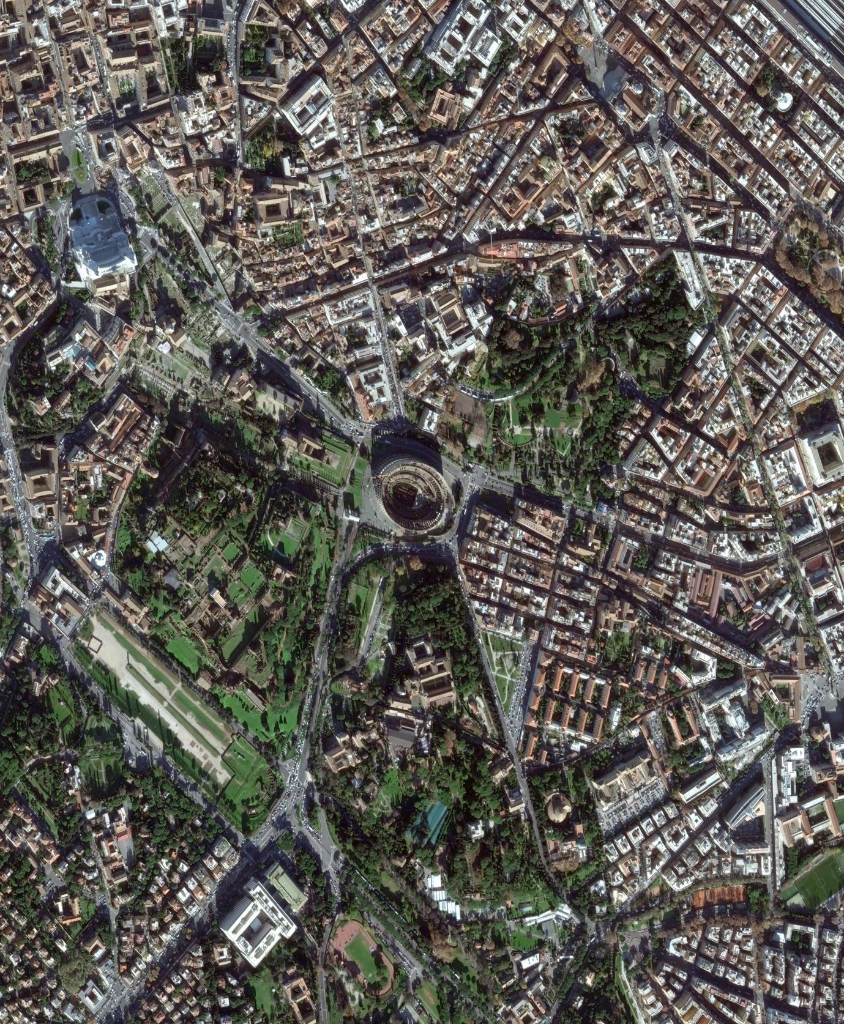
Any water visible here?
No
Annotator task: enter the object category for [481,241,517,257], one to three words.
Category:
house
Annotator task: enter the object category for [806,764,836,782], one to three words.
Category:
house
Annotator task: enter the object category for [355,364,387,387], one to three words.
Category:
building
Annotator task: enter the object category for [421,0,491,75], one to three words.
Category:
building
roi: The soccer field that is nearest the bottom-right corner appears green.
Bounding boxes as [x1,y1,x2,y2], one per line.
[795,855,844,910]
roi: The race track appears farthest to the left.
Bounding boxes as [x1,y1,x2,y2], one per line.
[70,612,277,809]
